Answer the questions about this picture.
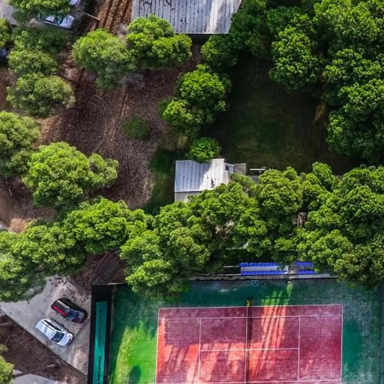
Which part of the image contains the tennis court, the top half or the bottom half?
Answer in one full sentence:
Seen from above, the tennis court lies in the bottom half of the view.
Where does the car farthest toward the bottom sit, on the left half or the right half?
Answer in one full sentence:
It is on the left.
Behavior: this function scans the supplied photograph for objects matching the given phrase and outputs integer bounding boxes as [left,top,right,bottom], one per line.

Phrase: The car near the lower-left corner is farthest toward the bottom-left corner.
[34,319,74,345]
